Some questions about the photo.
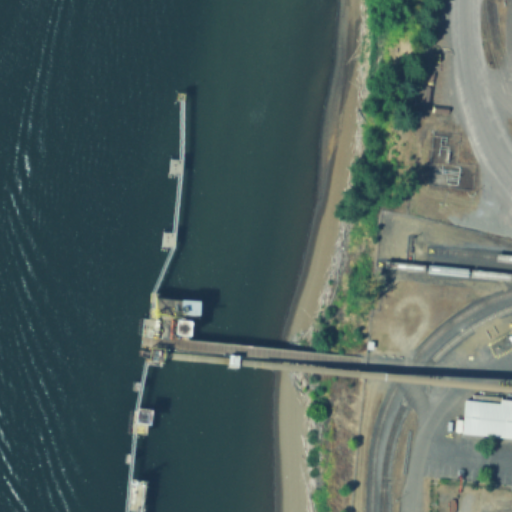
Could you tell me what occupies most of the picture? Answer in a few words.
water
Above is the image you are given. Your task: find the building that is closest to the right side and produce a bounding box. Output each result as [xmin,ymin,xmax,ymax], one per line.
[466,395,512,440]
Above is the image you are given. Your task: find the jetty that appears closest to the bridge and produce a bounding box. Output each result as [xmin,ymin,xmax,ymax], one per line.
[141,298,184,350]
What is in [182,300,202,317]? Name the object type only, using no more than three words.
house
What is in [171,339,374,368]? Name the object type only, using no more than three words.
bridge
